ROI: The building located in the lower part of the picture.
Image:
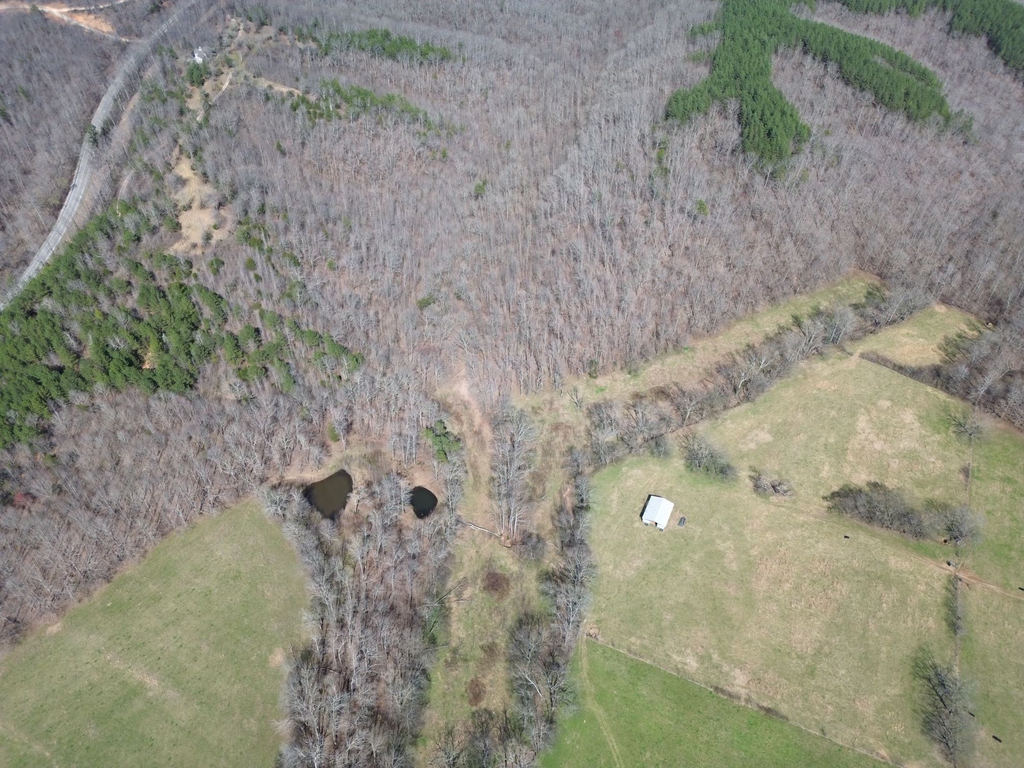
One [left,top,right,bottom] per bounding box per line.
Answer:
[641,496,674,533]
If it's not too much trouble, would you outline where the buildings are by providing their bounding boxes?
[189,44,209,62]
[641,496,674,533]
